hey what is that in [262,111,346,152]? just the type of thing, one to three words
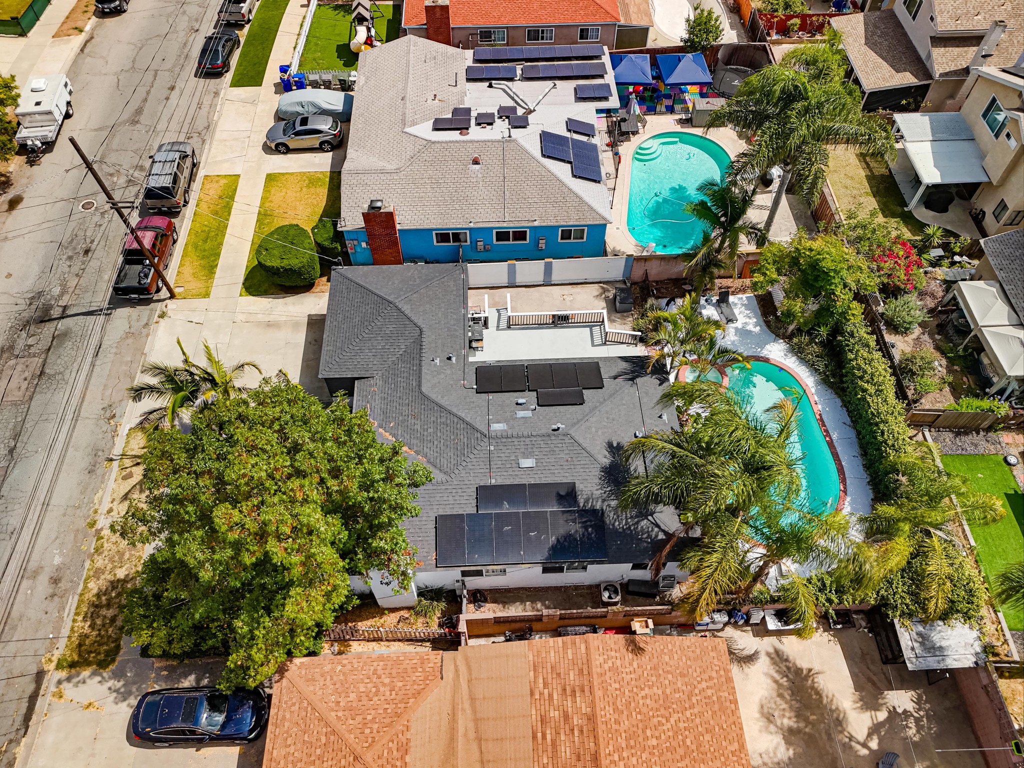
car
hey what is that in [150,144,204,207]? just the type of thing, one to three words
car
